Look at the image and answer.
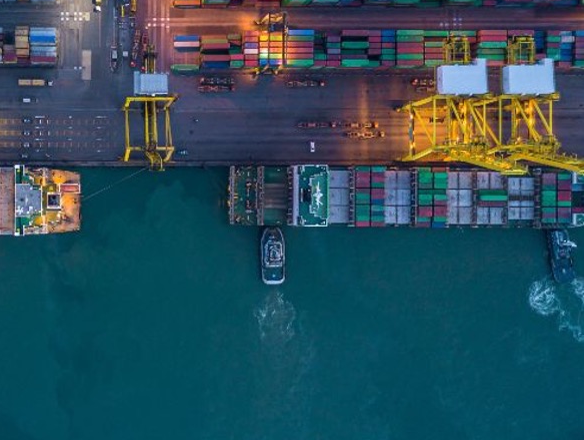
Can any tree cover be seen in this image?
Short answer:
No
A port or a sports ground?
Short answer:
port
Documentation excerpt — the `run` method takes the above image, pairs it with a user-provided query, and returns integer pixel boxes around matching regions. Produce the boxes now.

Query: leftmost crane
[116,35,179,167]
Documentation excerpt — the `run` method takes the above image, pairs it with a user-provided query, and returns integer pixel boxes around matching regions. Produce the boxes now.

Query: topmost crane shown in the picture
[252,12,284,76]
